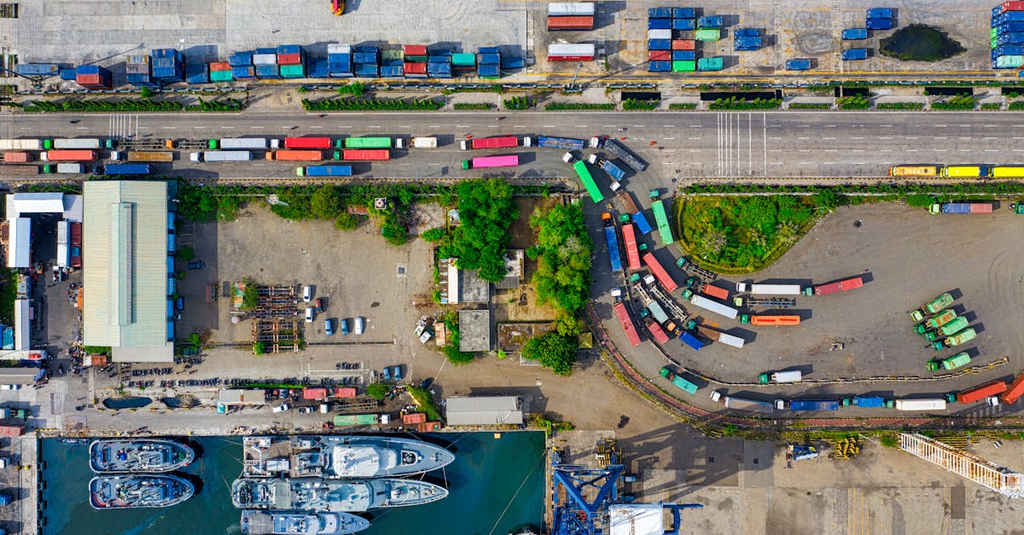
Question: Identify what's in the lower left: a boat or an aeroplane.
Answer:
boat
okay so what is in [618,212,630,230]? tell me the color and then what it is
green vehicle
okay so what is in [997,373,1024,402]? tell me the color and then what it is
red shipping container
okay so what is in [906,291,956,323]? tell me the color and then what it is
green truck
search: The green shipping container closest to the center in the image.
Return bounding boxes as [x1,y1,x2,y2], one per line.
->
[573,159,604,205]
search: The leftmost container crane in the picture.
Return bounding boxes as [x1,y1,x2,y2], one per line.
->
[551,449,704,535]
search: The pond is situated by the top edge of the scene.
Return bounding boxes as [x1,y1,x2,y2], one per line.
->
[879,23,967,62]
